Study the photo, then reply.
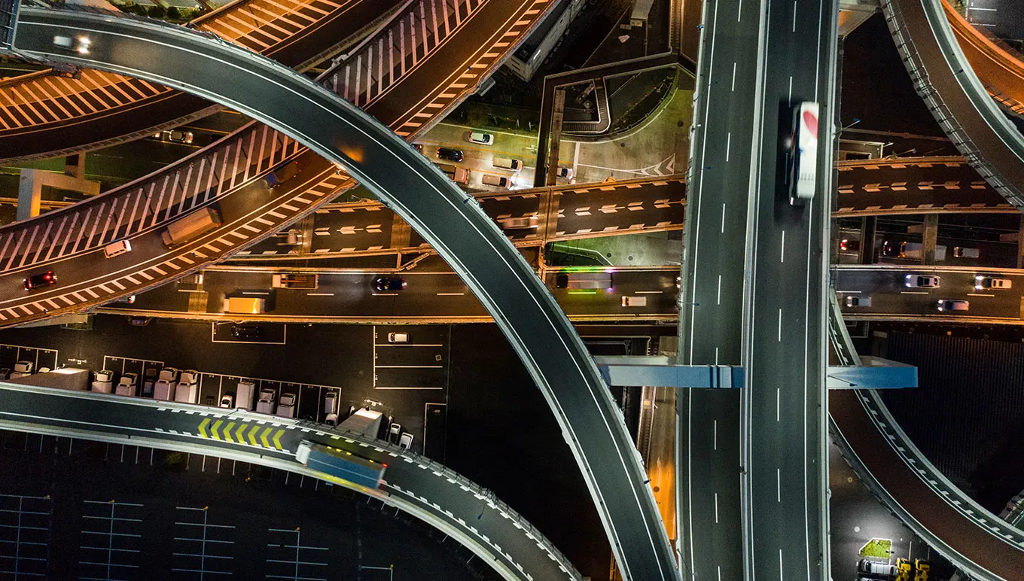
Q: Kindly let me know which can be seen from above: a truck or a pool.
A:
truck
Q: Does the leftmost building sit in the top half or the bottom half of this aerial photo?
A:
top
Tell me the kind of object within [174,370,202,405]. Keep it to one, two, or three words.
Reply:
truck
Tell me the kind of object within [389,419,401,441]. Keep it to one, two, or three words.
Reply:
vehicle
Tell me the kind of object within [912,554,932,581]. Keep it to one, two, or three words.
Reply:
work vehicle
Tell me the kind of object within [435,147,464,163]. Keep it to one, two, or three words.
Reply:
car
